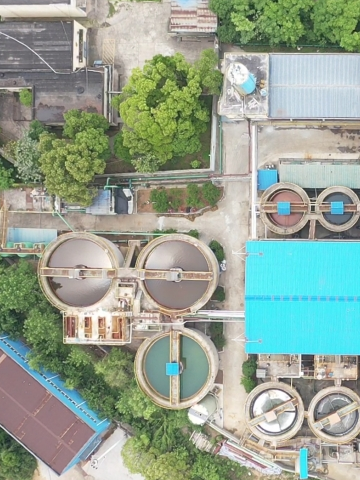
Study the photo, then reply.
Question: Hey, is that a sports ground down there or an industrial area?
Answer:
industrial area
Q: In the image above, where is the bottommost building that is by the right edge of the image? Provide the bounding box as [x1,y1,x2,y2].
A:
[244,240,360,356]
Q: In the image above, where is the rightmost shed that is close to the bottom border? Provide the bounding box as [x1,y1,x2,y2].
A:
[217,436,273,480]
